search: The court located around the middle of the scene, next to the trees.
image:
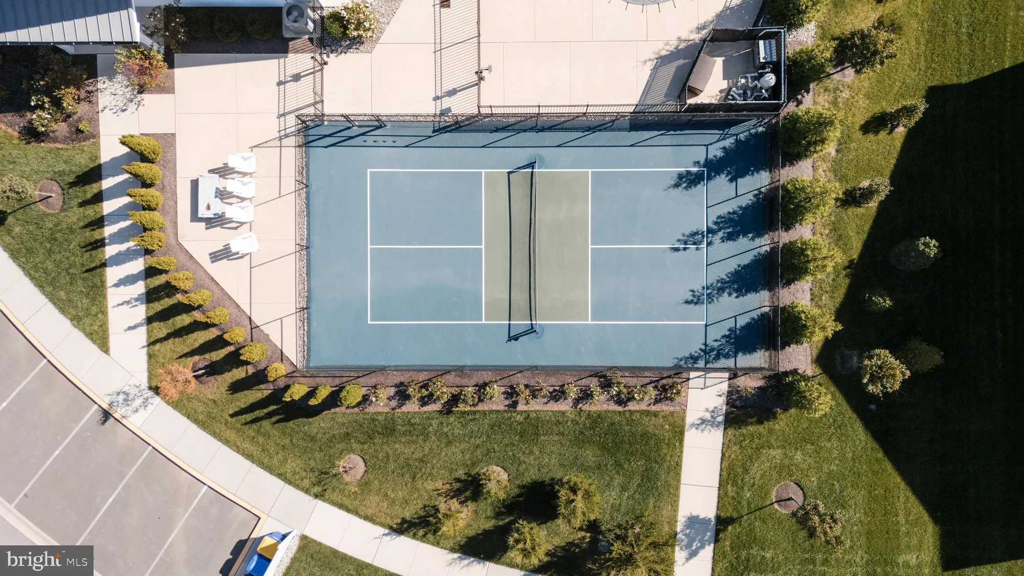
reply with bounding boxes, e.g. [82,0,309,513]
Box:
[306,119,770,369]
